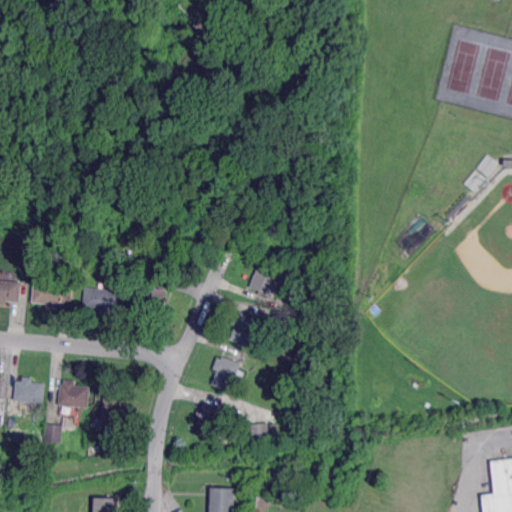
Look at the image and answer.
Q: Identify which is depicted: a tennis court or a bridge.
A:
tennis court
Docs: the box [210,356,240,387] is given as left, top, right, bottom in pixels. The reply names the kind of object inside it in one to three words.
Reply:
house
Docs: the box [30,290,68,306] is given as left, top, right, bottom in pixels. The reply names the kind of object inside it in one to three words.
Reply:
house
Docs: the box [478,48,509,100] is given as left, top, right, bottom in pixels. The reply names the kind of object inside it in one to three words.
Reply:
tennis court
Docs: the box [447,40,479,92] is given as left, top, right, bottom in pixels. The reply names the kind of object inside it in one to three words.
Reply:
tennis court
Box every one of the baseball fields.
[366,175,512,405]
